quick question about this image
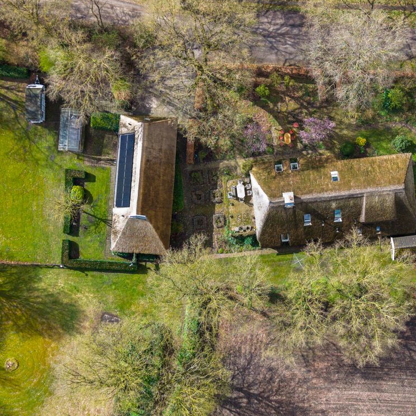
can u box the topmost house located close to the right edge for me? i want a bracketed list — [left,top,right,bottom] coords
[250,153,416,249]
